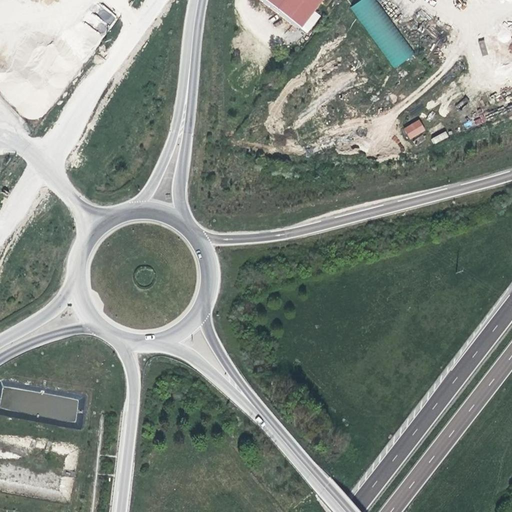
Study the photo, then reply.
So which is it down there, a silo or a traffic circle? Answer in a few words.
traffic circle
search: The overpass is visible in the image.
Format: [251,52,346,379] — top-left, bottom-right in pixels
[314,478,360,512]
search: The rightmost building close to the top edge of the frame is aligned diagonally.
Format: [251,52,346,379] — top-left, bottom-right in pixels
[351,0,415,66]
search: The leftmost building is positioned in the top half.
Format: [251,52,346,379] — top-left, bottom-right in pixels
[260,0,323,34]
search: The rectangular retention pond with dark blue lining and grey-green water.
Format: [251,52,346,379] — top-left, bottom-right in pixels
[0,379,89,432]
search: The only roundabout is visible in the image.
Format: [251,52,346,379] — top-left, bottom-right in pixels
[68,200,220,352]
